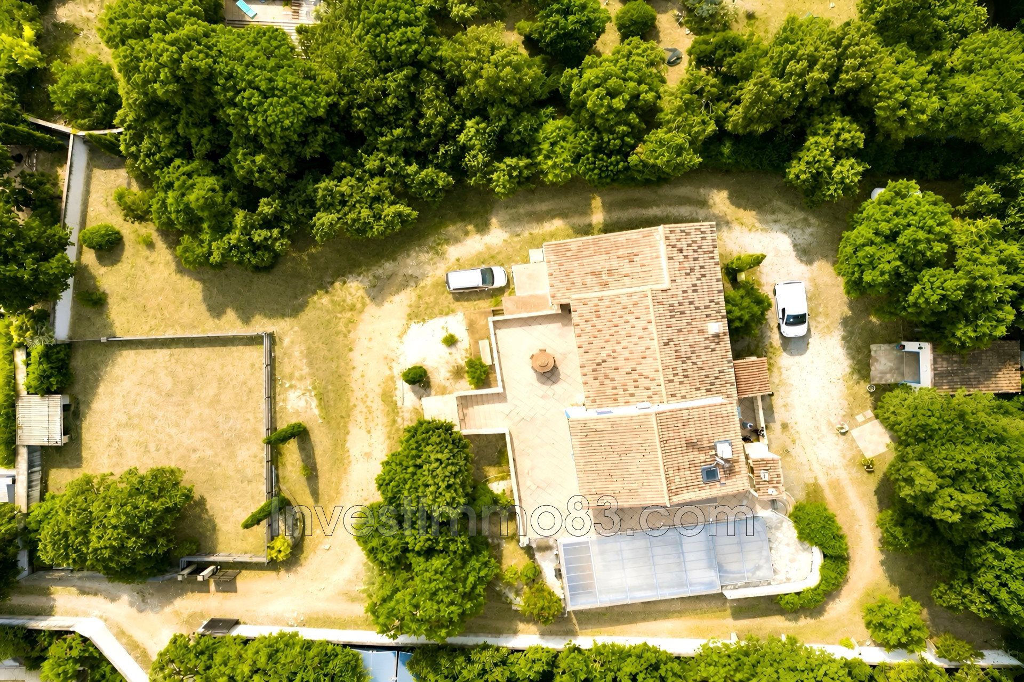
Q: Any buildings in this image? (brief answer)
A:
Yes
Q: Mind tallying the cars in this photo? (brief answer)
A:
2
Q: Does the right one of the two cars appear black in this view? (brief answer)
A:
No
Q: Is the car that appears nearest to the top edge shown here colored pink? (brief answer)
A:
No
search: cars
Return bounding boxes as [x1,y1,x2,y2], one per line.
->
[445,262,508,294]
[779,281,813,338]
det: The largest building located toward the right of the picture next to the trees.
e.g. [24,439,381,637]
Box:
[542,222,751,509]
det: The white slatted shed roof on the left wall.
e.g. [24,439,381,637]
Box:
[15,394,83,446]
